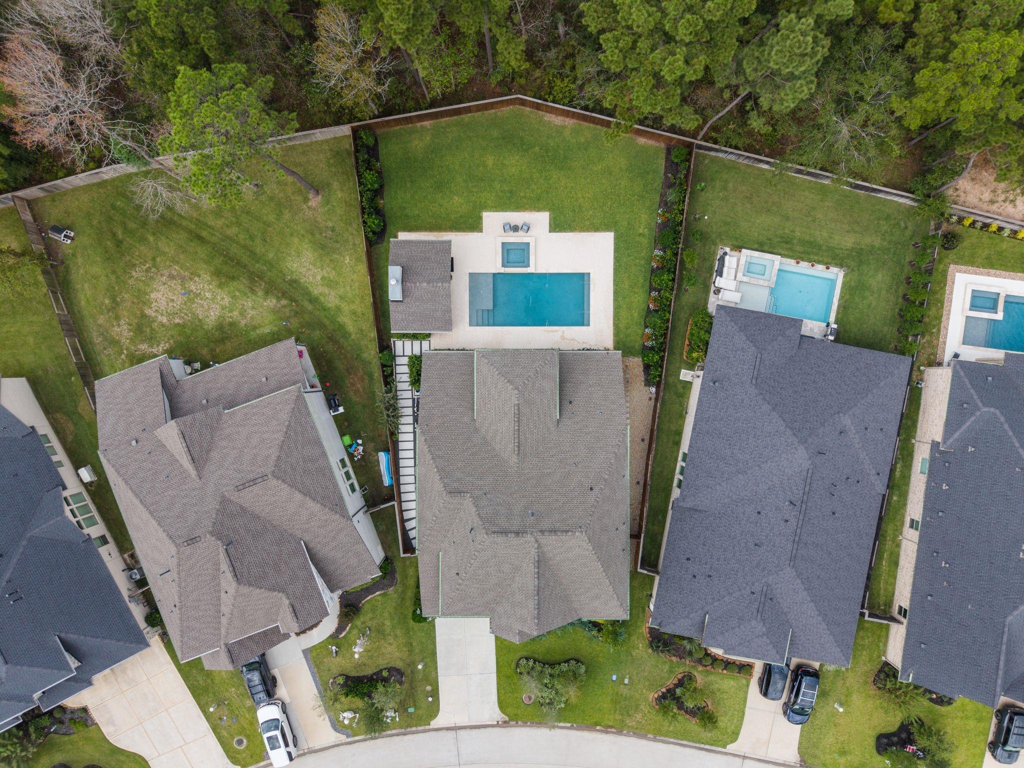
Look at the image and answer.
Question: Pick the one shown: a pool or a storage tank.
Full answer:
Of the two, only a pool appears.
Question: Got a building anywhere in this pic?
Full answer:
Yes, this view includes a building.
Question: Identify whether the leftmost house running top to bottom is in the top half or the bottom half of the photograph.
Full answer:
The leftmost house running top to bottom sits in the bottom half of the picture.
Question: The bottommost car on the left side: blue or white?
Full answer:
The bottommost car on the left side looks white in the image.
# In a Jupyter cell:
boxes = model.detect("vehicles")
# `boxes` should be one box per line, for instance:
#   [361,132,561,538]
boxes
[783,660,823,728]
[754,658,792,708]
[257,695,300,768]
[237,652,280,708]
[986,699,1024,768]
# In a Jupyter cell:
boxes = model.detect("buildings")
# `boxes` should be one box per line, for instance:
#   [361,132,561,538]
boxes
[389,238,454,334]
[94,336,385,671]
[0,378,153,731]
[885,351,1024,710]
[648,303,913,669]
[415,348,631,645]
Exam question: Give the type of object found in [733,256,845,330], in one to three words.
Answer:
swimming pool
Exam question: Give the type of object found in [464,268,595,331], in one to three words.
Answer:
swimming pool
